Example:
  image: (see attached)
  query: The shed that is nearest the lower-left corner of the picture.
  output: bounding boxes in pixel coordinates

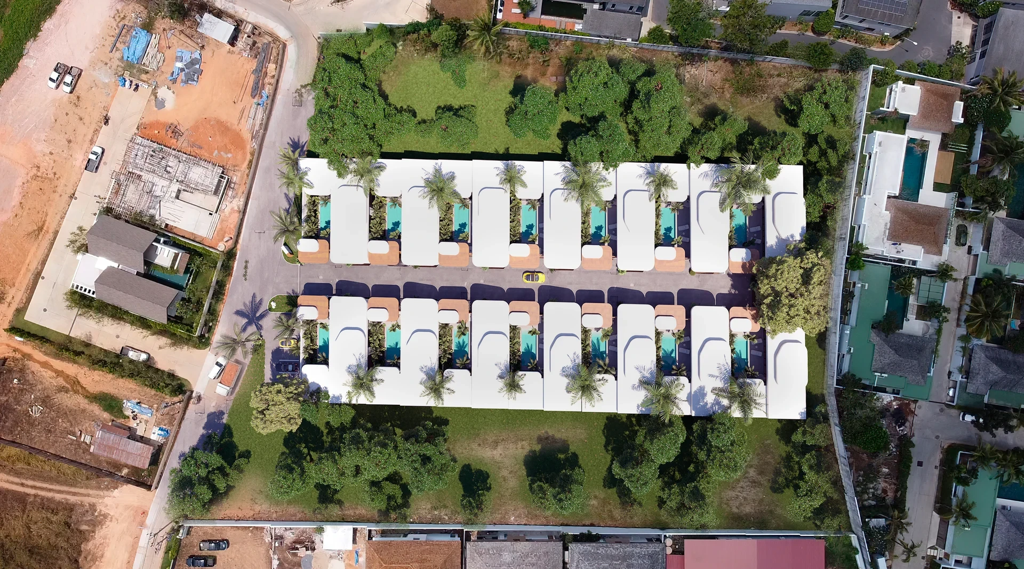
[91,422,159,469]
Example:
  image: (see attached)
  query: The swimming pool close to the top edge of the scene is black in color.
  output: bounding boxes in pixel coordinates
[539,0,591,21]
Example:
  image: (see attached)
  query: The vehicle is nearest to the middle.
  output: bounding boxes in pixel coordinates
[523,271,545,283]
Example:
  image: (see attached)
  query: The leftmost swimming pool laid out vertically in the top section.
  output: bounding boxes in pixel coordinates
[318,199,330,242]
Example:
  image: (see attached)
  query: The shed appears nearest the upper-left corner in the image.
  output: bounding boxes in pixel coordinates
[195,13,239,46]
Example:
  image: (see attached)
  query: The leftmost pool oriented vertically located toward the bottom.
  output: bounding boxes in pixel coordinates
[316,323,329,363]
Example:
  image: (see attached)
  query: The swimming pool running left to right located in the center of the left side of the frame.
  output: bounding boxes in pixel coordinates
[140,268,189,291]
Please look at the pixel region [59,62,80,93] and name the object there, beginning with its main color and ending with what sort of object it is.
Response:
white truck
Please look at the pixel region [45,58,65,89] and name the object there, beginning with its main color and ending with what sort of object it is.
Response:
white vehicle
